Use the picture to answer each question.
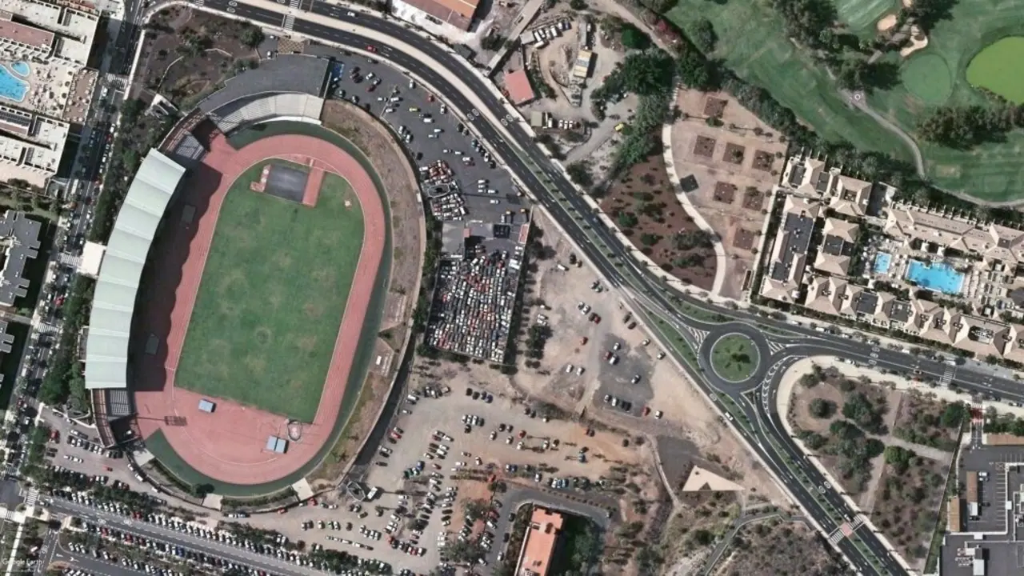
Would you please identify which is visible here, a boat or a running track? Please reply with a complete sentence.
I can see a running track in this picture.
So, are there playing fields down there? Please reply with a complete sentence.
Yes, the image includes a playing field.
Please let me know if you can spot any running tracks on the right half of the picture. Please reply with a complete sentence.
No, there's no running track to be seen on the right half of the picture.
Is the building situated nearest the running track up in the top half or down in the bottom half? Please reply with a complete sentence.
You can find the building situated nearest the running track in the top half.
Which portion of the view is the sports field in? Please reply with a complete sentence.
The sports field is in the left part of the image.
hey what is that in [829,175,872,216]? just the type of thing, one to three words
house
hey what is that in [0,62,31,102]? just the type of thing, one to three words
swimming pool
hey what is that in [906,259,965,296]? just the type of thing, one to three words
swimming pool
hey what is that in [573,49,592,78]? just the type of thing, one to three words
building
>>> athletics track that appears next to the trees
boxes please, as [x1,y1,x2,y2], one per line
[134,129,385,484]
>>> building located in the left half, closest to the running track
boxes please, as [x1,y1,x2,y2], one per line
[196,53,329,115]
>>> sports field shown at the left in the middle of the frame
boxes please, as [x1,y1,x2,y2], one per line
[174,155,365,423]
